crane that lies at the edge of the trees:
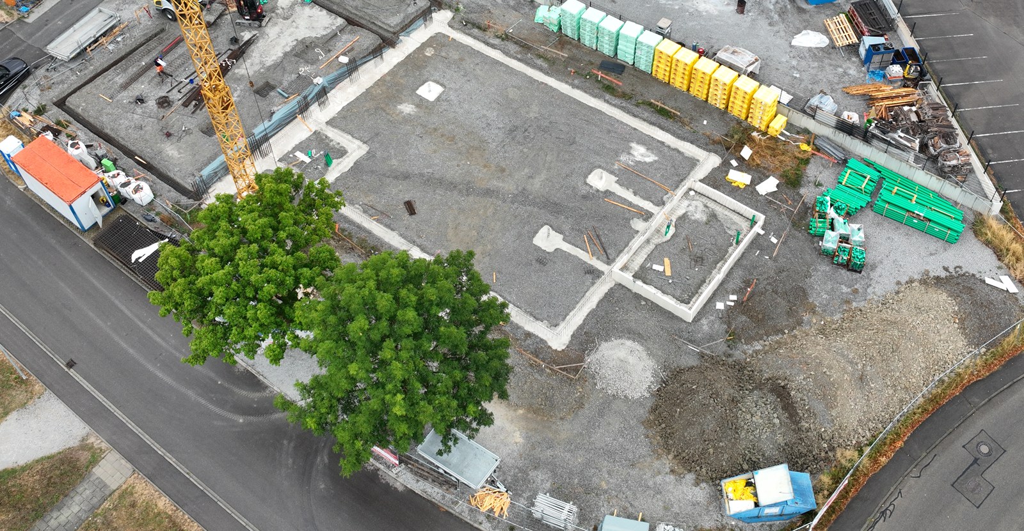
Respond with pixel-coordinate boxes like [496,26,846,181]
[169,0,264,202]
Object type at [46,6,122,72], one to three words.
trailer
